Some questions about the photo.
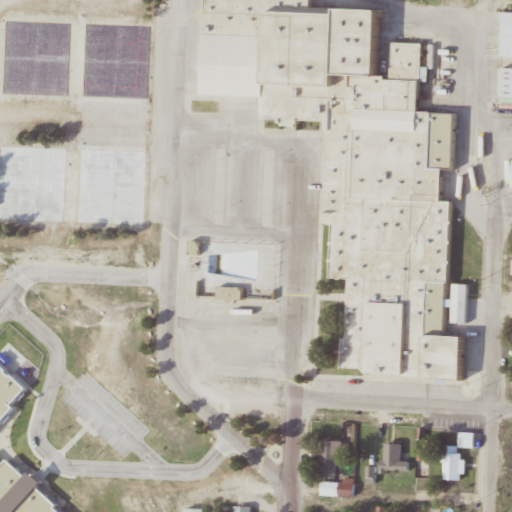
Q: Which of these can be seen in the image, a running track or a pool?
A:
pool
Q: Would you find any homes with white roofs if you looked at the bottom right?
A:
Yes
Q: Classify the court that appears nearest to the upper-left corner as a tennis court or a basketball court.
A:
tennis court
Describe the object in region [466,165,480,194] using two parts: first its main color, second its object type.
white vehicle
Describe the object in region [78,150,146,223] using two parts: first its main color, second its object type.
white sports court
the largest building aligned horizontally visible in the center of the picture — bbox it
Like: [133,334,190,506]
[194,278,274,302]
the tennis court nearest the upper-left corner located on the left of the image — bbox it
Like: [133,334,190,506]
[4,22,71,96]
